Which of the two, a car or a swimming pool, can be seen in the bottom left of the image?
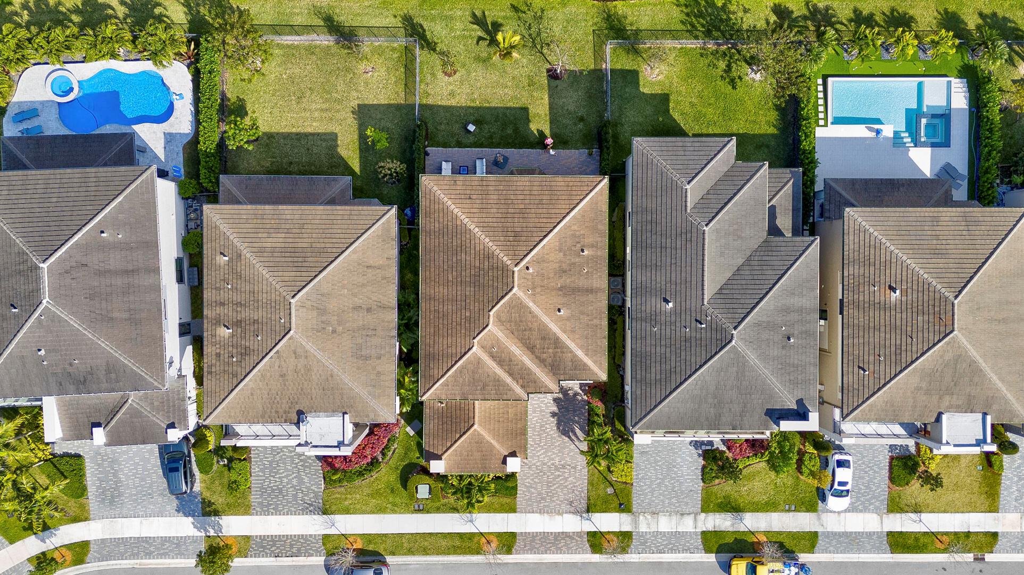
car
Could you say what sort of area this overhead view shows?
residential area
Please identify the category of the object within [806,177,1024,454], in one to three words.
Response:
house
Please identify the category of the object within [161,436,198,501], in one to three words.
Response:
car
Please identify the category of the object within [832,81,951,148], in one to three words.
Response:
swimming pool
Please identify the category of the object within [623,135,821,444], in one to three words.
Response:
house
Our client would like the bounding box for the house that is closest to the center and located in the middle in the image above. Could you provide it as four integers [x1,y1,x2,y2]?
[418,166,610,475]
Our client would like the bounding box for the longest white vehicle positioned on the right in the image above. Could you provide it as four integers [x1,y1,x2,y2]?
[822,450,854,515]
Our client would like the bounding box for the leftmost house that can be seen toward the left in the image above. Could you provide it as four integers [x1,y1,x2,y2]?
[0,131,202,447]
